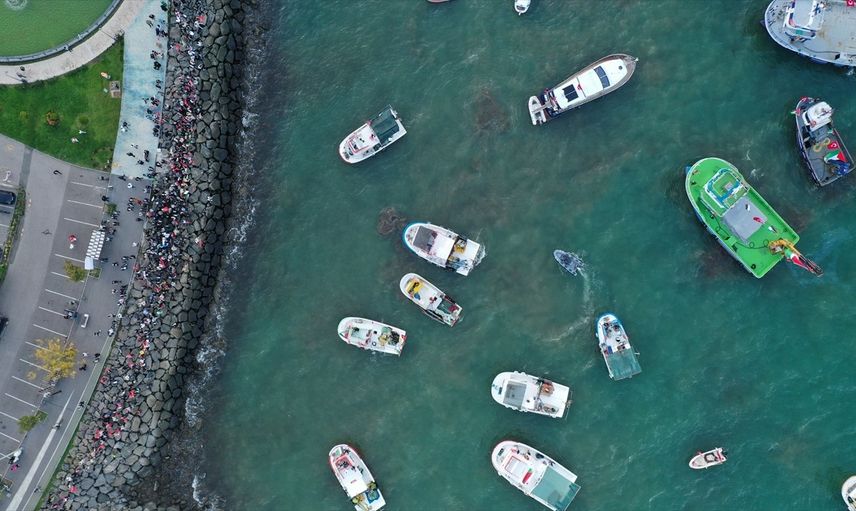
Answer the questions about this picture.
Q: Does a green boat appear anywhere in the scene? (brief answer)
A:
Yes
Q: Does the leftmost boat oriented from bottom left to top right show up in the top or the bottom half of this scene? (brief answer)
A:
top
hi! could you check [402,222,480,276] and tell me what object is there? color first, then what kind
white boat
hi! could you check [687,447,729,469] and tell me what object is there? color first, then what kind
white boat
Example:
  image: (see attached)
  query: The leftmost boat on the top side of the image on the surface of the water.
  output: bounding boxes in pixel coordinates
[339,105,407,160]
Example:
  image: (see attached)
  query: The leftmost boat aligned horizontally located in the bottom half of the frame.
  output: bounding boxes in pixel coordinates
[338,319,407,357]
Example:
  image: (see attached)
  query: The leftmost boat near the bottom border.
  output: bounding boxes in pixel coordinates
[329,444,385,511]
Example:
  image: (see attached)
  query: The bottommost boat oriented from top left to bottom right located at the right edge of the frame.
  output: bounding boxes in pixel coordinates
[680,158,824,278]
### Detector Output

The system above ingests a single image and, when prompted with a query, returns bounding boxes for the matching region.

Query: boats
[492,370,571,418]
[402,222,480,276]
[400,274,464,327]
[680,158,824,278]
[759,0,856,73]
[491,441,580,511]
[329,444,385,511]
[514,0,531,17]
[596,314,641,381]
[553,250,583,275]
[339,105,407,160]
[529,54,639,120]
[836,474,856,511]
[687,447,729,469]
[338,319,407,357]
[791,95,853,183]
